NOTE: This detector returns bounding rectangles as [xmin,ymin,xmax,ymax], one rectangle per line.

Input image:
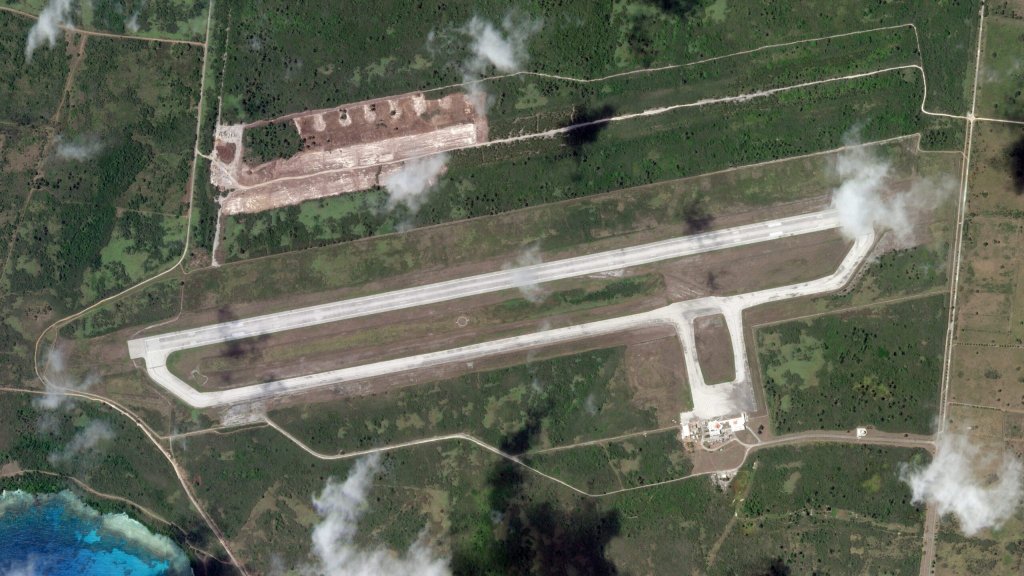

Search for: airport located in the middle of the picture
[128,203,874,425]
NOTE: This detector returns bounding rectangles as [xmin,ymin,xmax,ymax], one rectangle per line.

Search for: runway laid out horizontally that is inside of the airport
[145,203,872,356]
